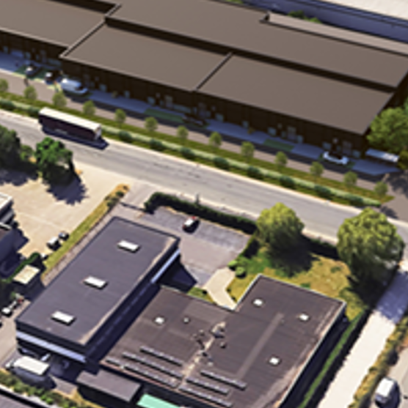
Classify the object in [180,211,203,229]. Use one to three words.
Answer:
car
